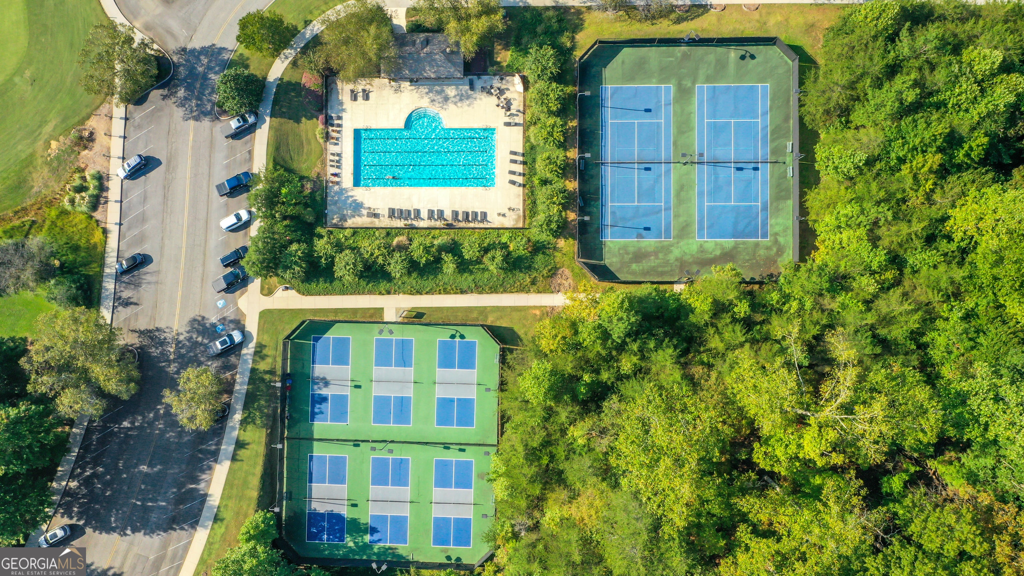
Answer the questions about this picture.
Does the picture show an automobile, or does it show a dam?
automobile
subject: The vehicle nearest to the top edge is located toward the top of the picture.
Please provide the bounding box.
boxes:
[221,113,259,139]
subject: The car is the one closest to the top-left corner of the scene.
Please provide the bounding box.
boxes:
[119,154,150,181]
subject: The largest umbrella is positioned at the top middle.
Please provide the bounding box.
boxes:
[497,74,525,92]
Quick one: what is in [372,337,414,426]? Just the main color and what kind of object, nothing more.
blue sports court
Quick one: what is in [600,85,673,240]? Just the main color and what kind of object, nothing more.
blue tennis court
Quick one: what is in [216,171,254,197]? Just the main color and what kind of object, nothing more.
blue truck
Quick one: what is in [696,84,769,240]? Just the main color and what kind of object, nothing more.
blue tennis court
